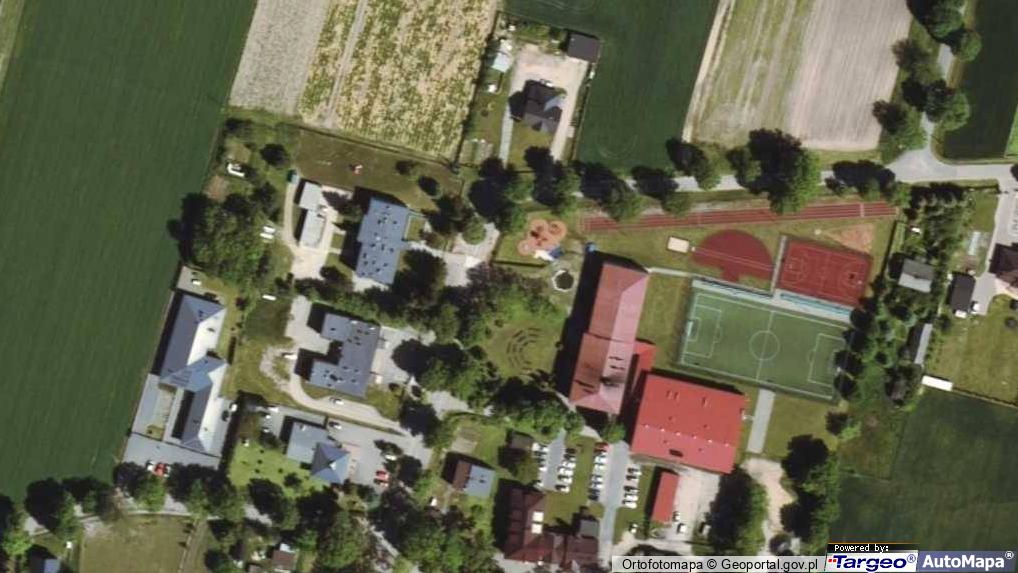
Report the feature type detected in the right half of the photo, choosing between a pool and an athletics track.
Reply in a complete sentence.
The feature located in the right half of the photo is an athletics track.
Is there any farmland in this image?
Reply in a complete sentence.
Yes, there is farmland in the image.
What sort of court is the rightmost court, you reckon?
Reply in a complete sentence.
The rightmost court appears to be a basketball court.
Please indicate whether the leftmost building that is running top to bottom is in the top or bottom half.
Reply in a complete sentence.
The bottom half of the photo is where the leftmost building that is running top to bottom is.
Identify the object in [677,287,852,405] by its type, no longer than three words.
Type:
soccer field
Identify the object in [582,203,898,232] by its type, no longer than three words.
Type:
running track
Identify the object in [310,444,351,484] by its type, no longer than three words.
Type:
house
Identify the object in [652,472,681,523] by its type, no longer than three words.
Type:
building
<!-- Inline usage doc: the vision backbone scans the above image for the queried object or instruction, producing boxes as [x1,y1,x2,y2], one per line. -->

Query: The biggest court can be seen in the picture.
[778,238,871,304]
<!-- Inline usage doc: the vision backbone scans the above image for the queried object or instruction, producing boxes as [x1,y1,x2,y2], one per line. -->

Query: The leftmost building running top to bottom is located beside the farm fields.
[160,295,228,454]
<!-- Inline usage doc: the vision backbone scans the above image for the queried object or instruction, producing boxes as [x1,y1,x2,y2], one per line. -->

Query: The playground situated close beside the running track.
[518,220,568,256]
